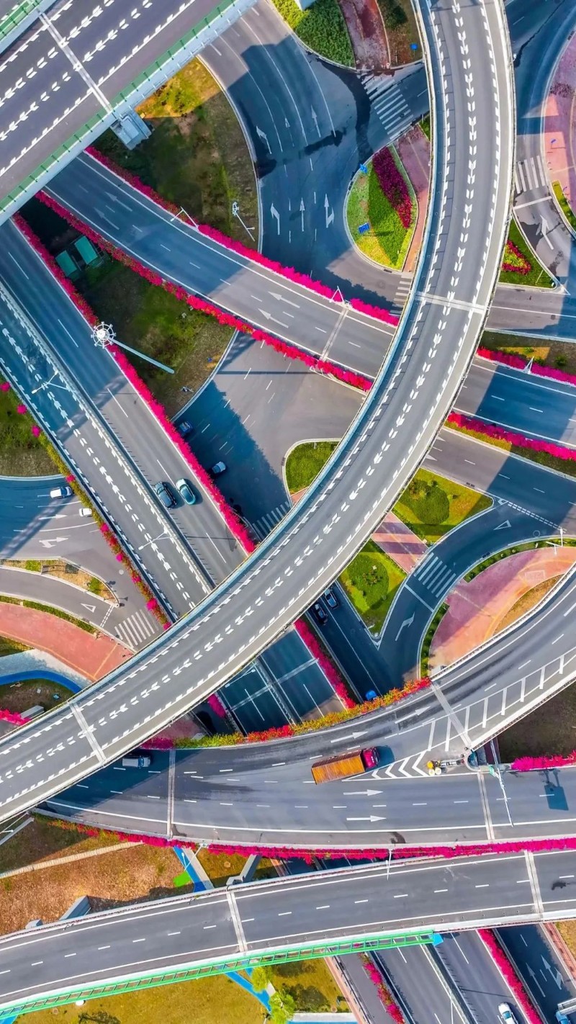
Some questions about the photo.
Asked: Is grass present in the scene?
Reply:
Yes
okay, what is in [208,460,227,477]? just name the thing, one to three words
car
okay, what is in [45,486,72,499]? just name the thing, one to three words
vehicle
